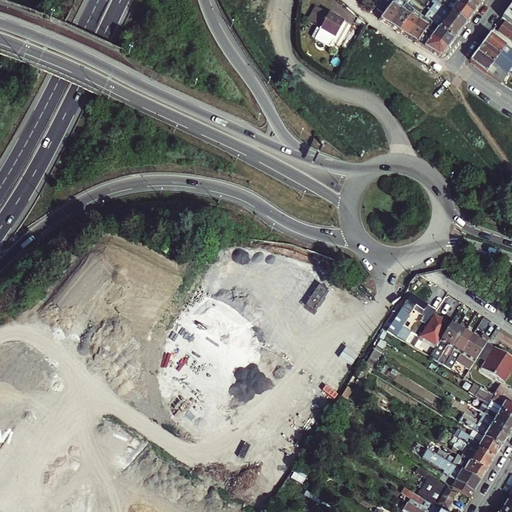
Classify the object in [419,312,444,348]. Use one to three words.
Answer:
house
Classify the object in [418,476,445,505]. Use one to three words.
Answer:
building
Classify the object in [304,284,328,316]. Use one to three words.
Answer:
shed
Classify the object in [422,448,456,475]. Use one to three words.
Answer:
shed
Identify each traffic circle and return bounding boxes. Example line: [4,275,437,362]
[330,151,463,271]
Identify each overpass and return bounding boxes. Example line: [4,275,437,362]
[0,0,342,208]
